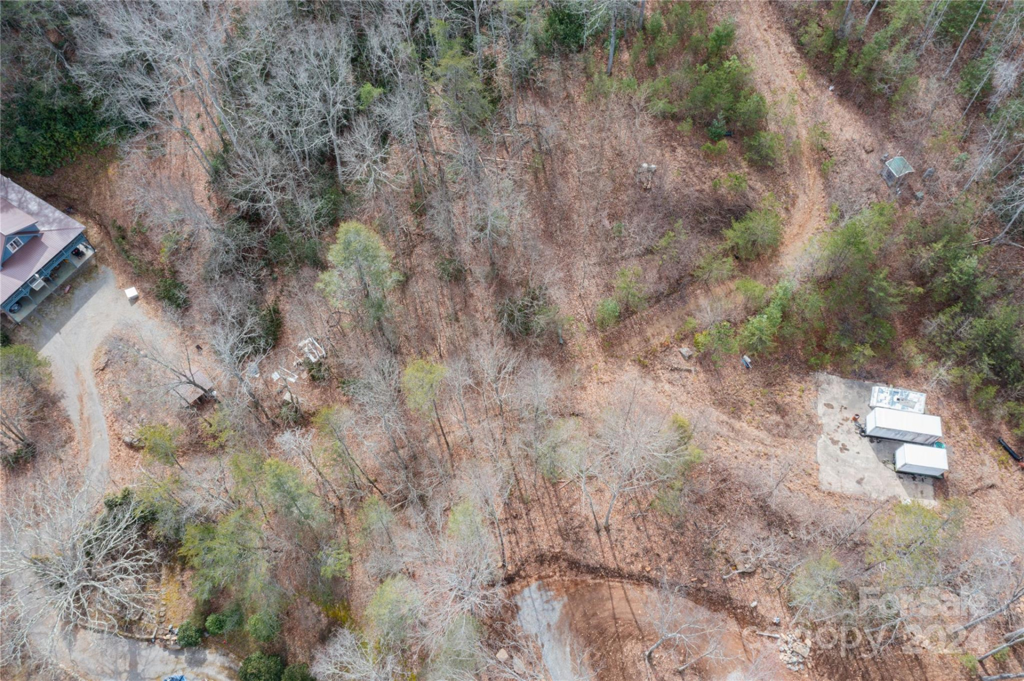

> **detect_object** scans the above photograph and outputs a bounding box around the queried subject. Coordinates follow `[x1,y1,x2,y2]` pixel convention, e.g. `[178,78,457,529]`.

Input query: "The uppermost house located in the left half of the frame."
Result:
[0,184,101,331]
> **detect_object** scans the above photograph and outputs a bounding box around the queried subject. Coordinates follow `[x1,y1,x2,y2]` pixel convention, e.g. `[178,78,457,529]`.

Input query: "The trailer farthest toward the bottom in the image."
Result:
[881,444,949,478]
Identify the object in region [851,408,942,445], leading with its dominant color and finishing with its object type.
white trailer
